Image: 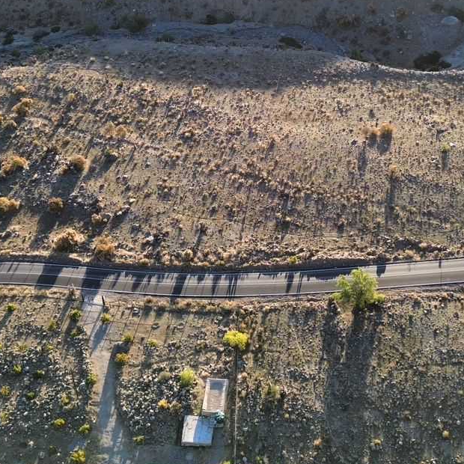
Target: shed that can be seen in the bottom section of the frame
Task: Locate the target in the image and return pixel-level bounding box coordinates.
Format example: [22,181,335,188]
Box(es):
[181,414,215,453]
